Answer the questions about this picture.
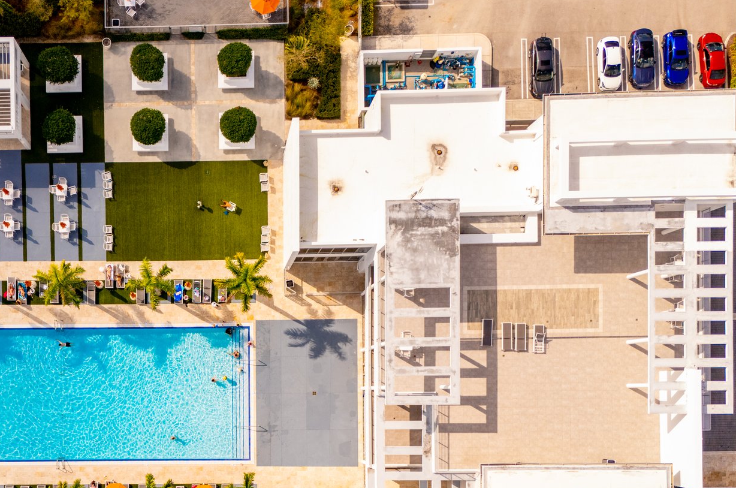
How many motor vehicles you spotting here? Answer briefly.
5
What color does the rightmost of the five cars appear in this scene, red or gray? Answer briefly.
red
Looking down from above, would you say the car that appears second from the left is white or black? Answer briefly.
white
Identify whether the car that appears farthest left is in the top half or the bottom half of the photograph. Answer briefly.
top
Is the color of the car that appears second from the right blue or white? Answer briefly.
blue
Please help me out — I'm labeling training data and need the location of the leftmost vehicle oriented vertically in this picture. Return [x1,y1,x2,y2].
[529,31,558,98]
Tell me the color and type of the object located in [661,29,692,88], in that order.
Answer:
blue car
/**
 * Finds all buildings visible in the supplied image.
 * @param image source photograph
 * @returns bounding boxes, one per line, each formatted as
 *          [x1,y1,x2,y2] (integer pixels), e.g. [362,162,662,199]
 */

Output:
[0,36,31,148]
[285,88,736,488]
